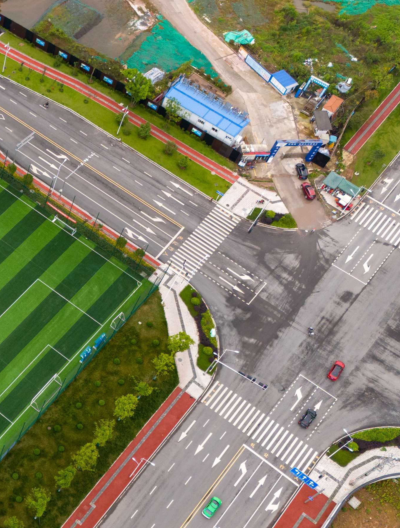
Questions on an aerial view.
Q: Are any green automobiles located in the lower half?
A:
Yes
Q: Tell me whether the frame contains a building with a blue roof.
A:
Yes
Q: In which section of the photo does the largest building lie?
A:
top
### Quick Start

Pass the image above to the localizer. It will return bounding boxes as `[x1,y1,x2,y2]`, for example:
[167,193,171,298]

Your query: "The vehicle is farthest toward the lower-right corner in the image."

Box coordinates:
[299,408,315,430]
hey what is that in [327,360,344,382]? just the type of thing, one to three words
car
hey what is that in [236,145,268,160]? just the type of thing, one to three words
building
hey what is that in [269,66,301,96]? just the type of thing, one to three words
shed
